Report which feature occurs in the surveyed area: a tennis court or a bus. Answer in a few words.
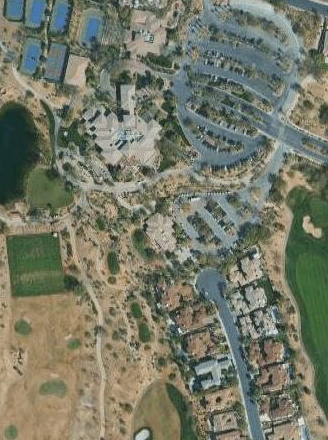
tennis court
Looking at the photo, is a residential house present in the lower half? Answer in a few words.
Yes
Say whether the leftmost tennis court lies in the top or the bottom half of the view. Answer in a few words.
top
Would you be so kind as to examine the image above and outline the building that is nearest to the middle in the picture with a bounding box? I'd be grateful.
[145,212,180,254]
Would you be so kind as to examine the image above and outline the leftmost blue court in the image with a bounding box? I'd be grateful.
[4,0,25,21]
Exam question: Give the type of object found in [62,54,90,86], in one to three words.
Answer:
building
